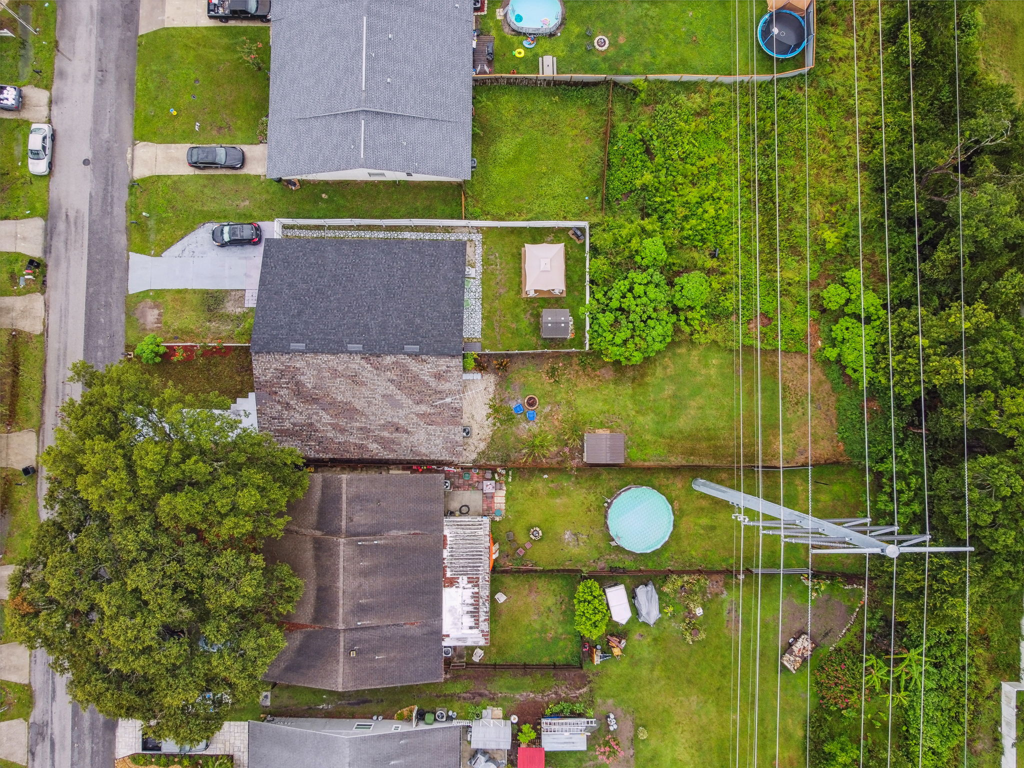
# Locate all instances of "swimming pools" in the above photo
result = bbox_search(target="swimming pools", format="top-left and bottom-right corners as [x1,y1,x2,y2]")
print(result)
[600,482,674,553]
[506,0,564,39]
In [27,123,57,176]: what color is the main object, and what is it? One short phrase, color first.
white car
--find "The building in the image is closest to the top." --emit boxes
[266,0,474,182]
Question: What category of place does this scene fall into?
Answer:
residential area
